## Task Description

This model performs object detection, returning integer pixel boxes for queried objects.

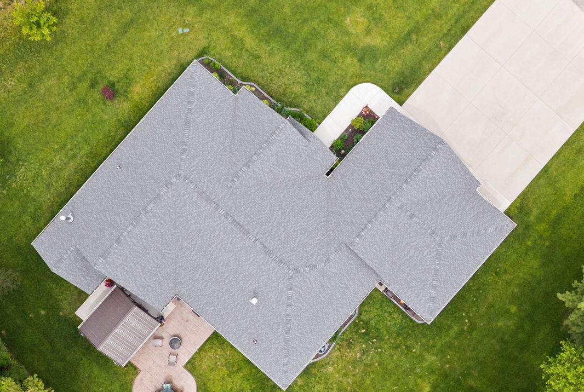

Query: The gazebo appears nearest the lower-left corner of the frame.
[78,286,163,367]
